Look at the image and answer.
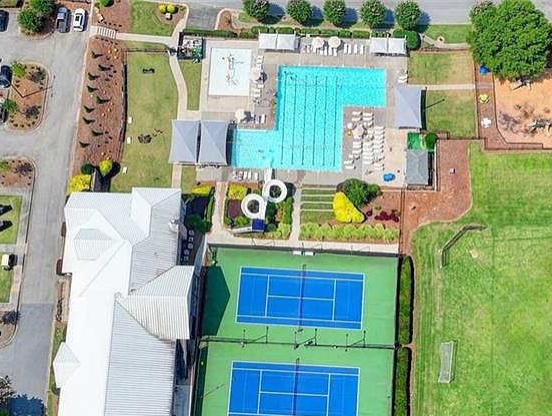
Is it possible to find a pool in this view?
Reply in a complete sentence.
Yes, the picture does show a pool.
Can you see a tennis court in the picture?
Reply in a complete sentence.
Yes, looking at the shot, I can spot a tennis court.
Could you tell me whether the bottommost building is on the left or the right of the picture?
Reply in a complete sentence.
The bottommost building appears in the left half of the scene.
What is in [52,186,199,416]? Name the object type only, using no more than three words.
building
